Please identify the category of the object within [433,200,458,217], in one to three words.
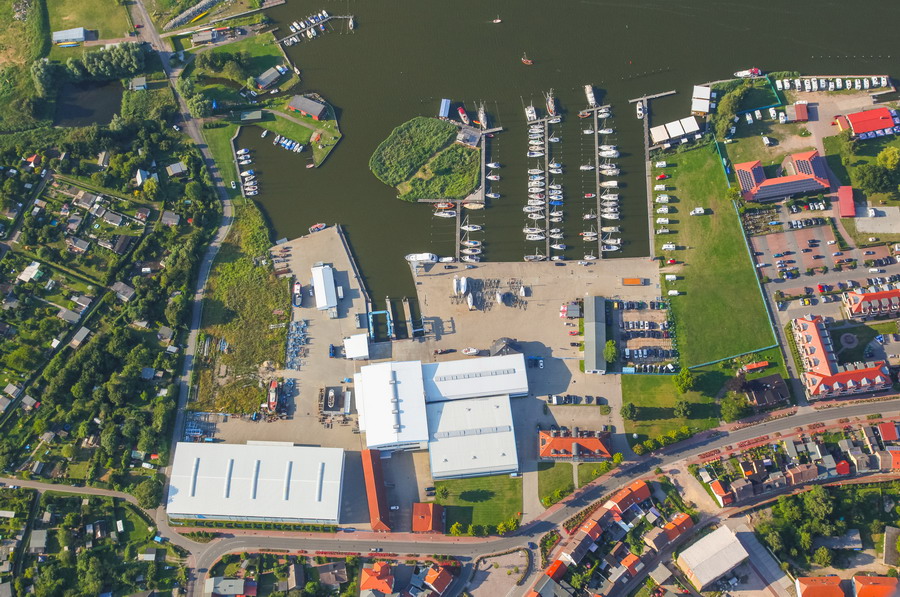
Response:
boat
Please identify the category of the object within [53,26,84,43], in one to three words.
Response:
shed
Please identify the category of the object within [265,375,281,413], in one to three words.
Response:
vessel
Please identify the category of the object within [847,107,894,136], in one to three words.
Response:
building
